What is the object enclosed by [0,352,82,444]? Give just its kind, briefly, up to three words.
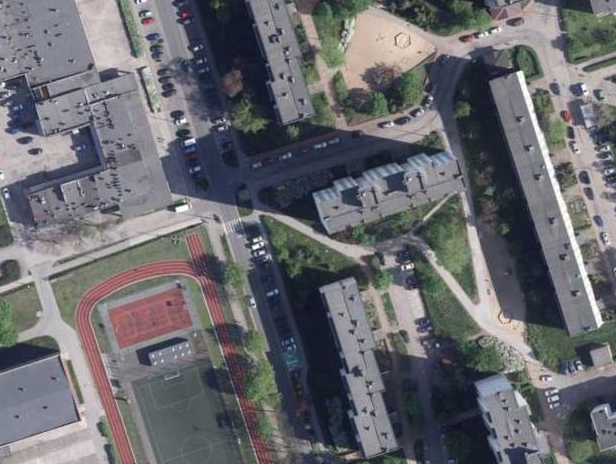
building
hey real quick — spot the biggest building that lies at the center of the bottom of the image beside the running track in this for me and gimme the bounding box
[319,274,402,459]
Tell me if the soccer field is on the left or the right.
left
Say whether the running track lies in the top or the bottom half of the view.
bottom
